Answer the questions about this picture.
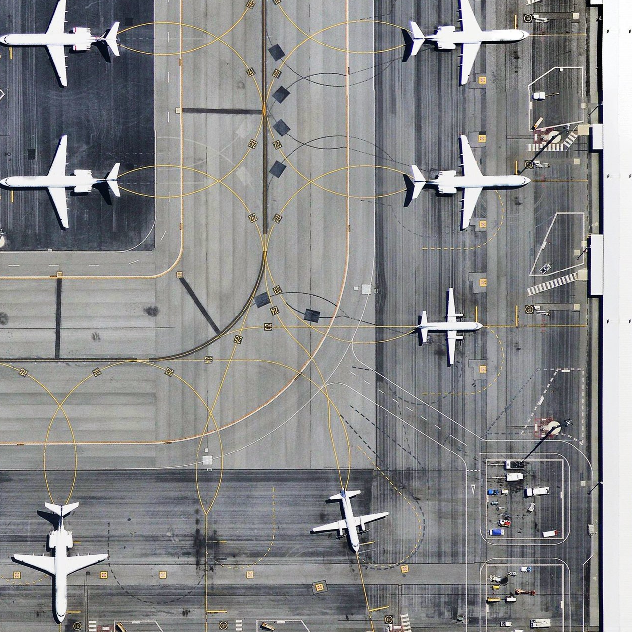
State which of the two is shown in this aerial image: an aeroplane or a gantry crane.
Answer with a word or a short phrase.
aeroplane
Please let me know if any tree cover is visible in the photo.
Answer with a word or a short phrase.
No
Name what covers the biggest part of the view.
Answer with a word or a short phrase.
paved ground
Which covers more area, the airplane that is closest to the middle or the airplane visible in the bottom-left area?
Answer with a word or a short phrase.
the airplane visible in the bottom-left area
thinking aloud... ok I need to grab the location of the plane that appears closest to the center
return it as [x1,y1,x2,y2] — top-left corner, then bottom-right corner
[419,288,482,364]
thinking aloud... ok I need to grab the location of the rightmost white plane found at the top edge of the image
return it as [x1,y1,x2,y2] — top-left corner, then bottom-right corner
[409,0,529,82]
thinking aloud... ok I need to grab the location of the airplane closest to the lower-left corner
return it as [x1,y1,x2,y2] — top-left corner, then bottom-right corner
[14,502,109,623]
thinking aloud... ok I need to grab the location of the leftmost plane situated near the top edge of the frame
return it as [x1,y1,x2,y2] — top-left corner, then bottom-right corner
[0,0,121,87]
